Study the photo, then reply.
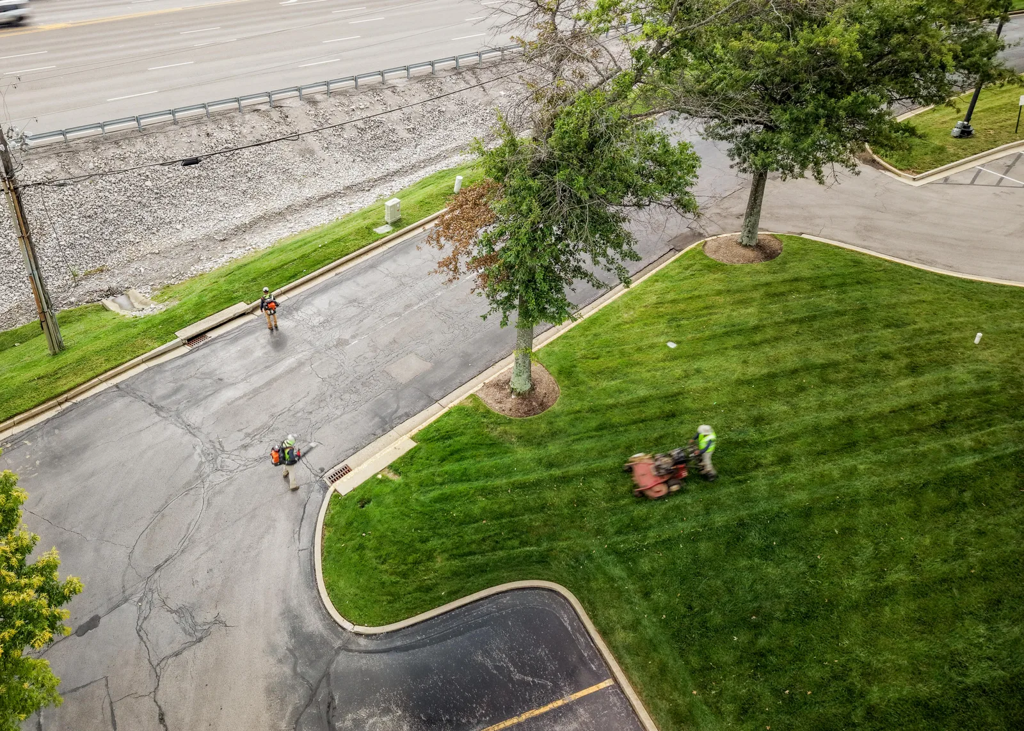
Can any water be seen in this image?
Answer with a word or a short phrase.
No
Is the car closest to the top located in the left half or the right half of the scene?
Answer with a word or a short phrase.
left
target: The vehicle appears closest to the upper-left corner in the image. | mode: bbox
[0,3,25,27]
